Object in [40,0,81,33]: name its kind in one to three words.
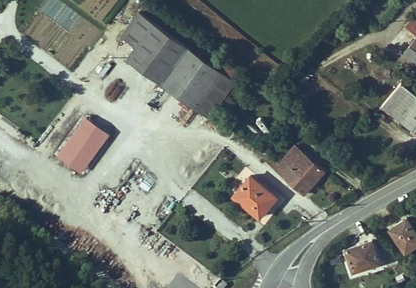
greenhouse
